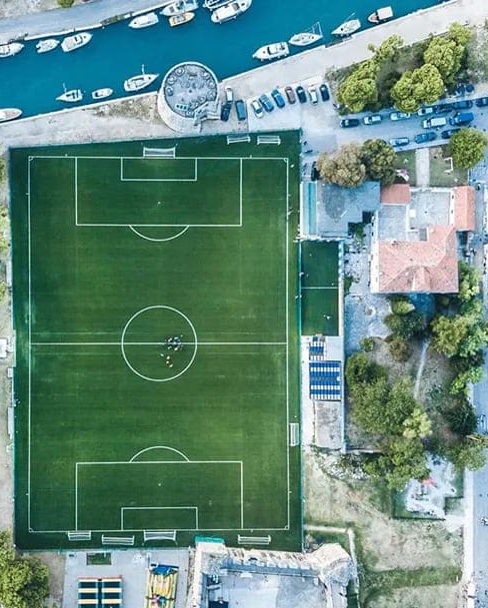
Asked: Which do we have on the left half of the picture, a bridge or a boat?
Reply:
boat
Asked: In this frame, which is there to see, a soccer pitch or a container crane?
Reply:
soccer pitch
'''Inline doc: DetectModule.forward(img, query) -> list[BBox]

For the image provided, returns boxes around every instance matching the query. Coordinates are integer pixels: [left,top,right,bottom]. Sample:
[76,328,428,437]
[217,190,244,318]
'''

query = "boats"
[161,0,202,14]
[56,87,83,102]
[253,40,293,60]
[287,22,323,48]
[0,43,22,57]
[57,33,90,54]
[168,14,194,26]
[210,1,251,25]
[332,14,362,34]
[122,70,157,92]
[130,9,161,27]
[90,90,112,100]
[33,39,58,53]
[204,0,231,8]
[368,6,394,21]
[0,107,21,122]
